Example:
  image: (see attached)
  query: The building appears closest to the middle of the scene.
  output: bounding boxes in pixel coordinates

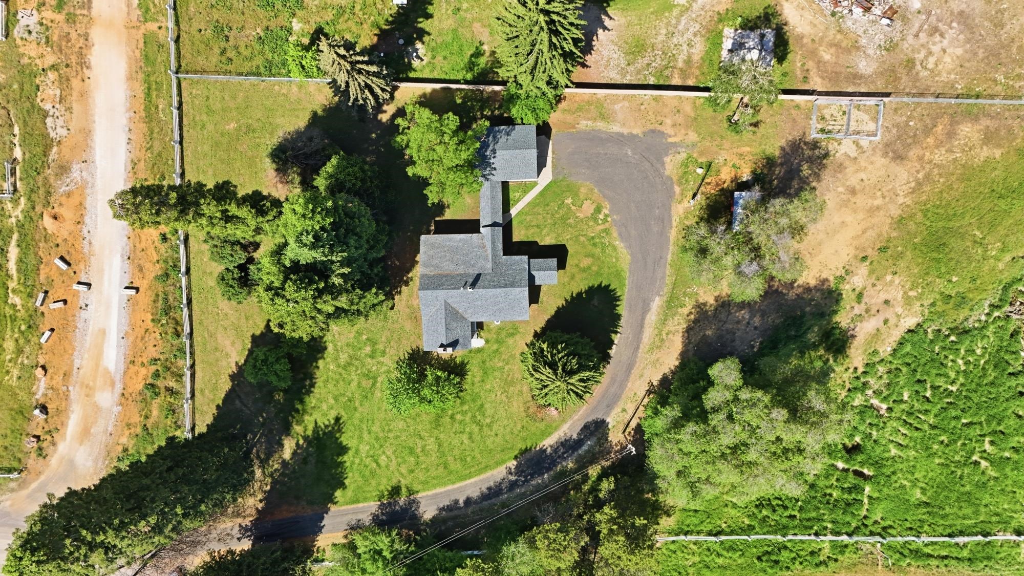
[419,226,558,354]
